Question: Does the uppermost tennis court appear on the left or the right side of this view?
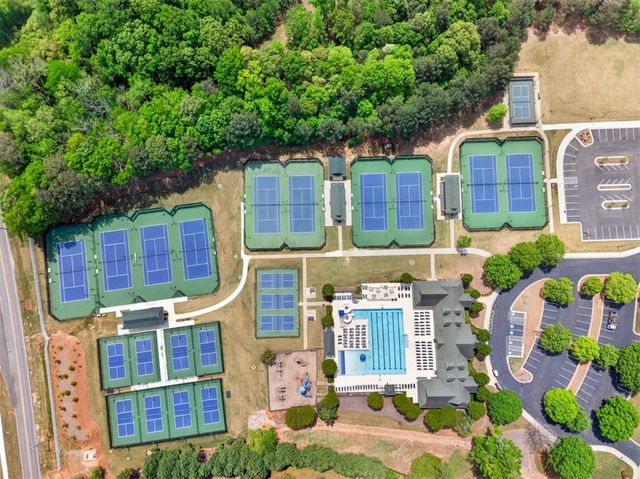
right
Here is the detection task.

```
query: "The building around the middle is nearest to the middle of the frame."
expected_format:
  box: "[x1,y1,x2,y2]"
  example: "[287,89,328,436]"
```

[331,182,346,225]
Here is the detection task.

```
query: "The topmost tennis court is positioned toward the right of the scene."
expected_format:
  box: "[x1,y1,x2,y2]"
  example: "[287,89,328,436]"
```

[509,77,538,124]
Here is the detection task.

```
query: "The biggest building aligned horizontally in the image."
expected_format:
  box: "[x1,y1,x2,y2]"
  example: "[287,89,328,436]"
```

[121,307,166,329]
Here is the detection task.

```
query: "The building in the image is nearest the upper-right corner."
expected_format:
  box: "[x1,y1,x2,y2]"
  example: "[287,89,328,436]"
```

[442,174,461,213]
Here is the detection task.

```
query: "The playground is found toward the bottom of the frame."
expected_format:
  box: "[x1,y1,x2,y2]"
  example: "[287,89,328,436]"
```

[268,350,316,410]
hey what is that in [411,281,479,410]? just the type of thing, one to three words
building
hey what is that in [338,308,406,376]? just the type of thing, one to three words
swimming pool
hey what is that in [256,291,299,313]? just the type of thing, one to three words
sports court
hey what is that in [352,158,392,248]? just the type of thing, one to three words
tennis court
